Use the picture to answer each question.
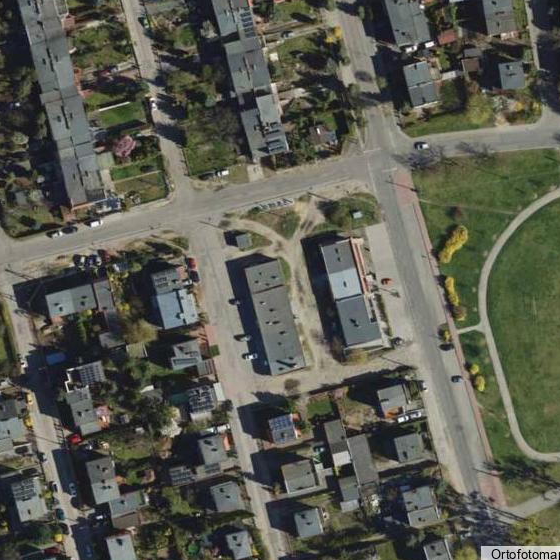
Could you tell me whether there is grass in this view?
Yes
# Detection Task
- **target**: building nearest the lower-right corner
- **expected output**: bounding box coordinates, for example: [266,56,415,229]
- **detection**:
[423,539,453,560]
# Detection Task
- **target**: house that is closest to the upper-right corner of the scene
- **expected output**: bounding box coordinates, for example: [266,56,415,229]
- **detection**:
[482,0,519,41]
